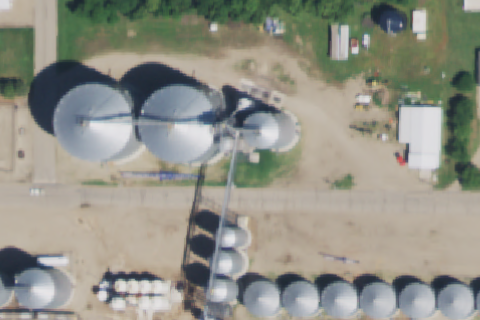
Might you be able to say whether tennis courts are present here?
No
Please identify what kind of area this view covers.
industrial area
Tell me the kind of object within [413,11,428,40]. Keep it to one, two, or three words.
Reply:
shed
